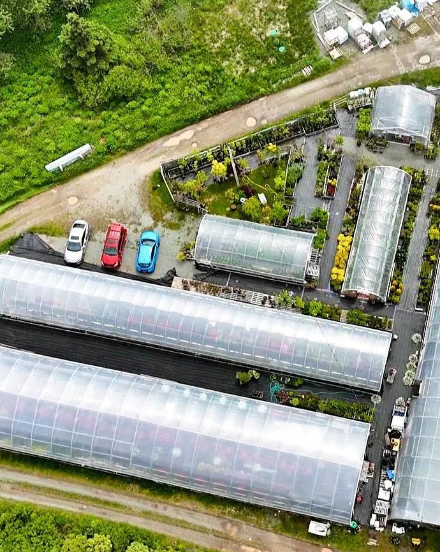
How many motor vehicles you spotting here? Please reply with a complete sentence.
The count of motor vehicles comes to 3.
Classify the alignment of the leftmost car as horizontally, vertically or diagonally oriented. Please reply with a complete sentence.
The leftmost car runs vertically in the image.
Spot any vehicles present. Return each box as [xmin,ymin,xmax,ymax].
[99,220,126,270]
[135,227,160,274]
[61,215,88,265]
